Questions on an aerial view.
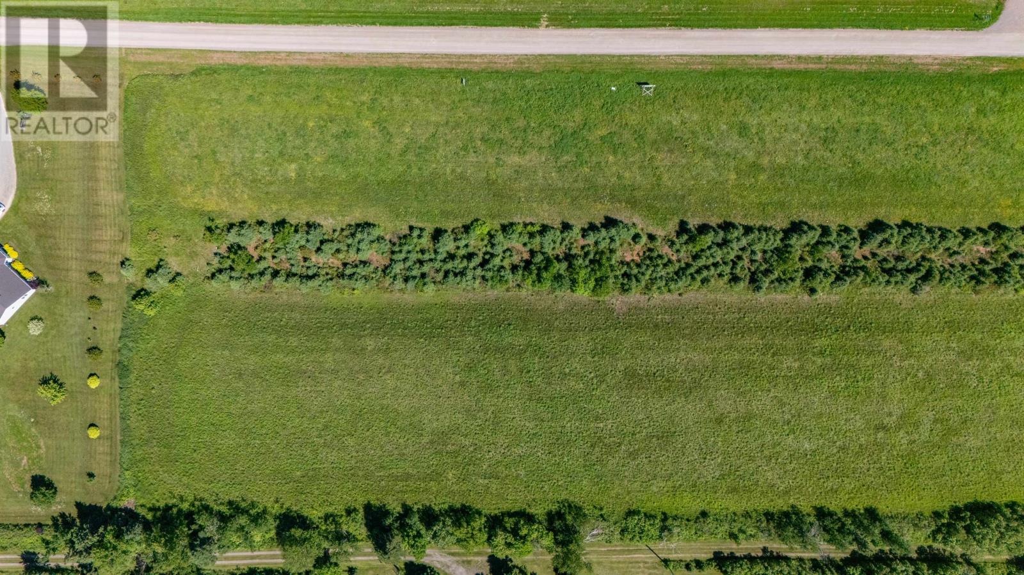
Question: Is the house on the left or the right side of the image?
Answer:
left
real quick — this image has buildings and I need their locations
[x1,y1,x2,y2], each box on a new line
[0,246,38,326]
